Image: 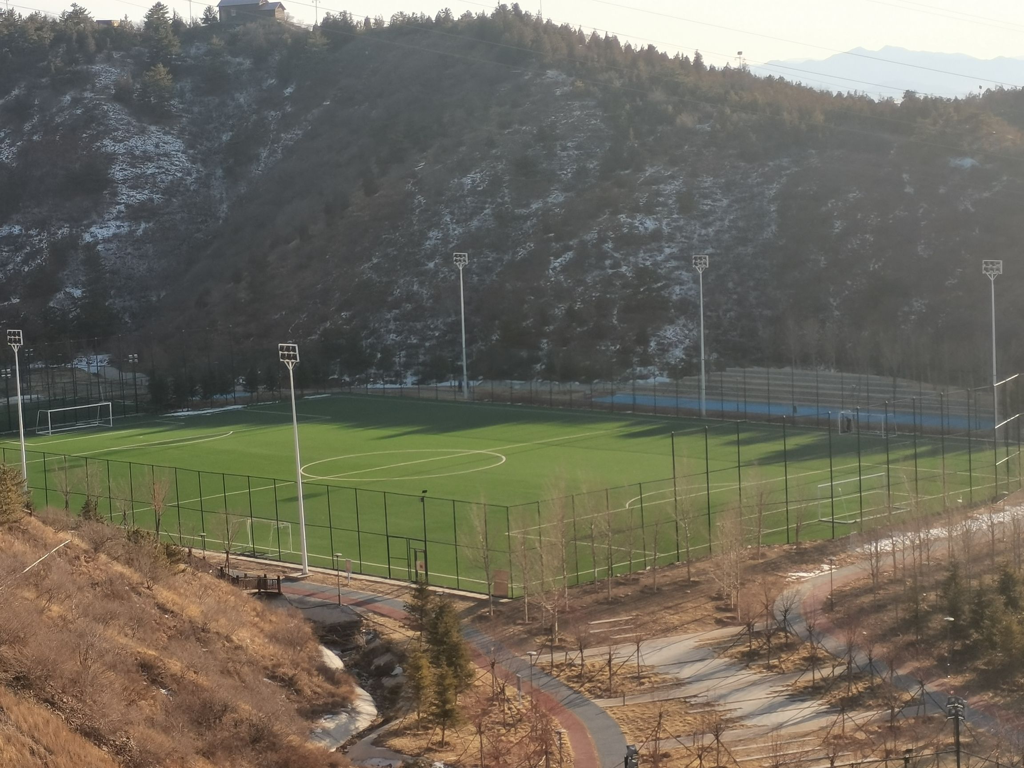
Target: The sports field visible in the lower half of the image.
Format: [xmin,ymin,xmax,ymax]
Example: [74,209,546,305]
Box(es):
[0,392,1024,597]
